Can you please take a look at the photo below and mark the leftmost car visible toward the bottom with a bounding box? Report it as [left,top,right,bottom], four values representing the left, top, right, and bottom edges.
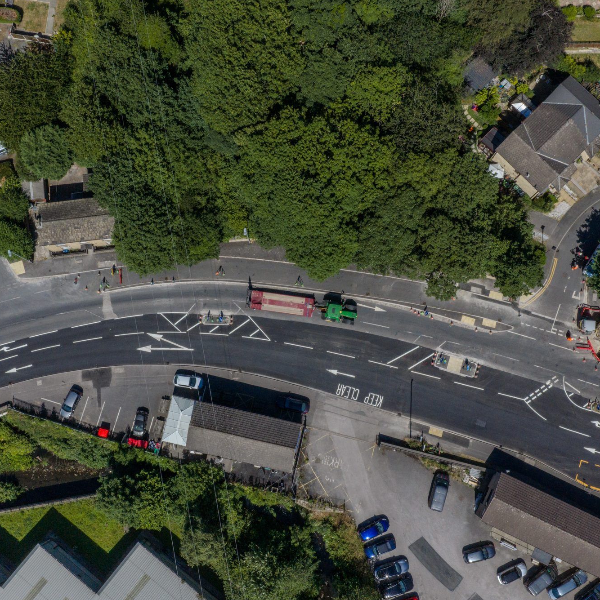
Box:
[59,388,81,420]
